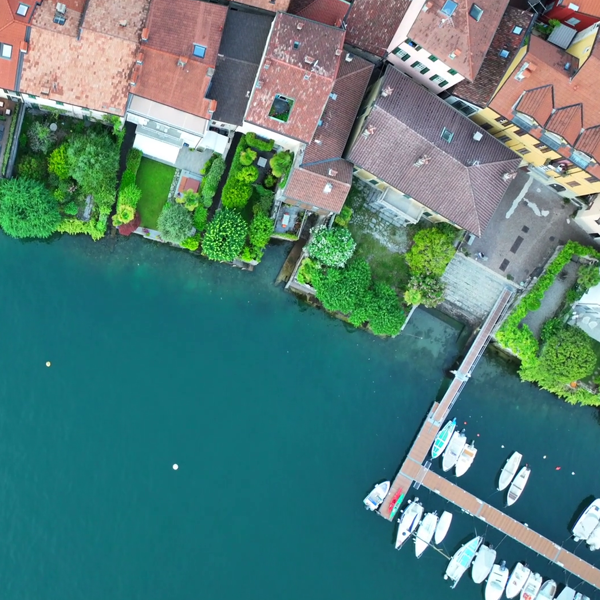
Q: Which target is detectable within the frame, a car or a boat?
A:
boat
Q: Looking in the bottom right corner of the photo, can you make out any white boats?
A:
Yes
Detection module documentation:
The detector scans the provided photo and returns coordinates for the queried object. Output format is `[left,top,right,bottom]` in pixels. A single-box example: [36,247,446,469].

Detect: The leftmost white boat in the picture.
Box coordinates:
[364,480,391,509]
